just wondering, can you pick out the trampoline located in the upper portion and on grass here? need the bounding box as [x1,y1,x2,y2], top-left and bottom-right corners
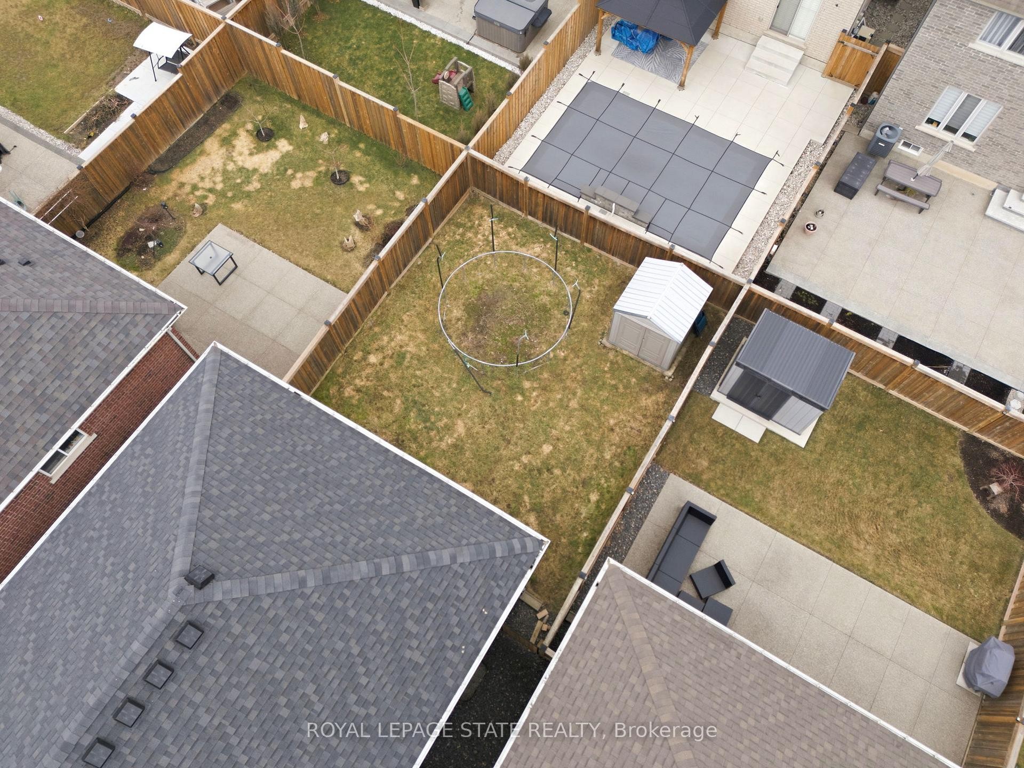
[436,206,581,395]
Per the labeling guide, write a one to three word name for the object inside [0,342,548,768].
house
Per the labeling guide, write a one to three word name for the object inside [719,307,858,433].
shed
